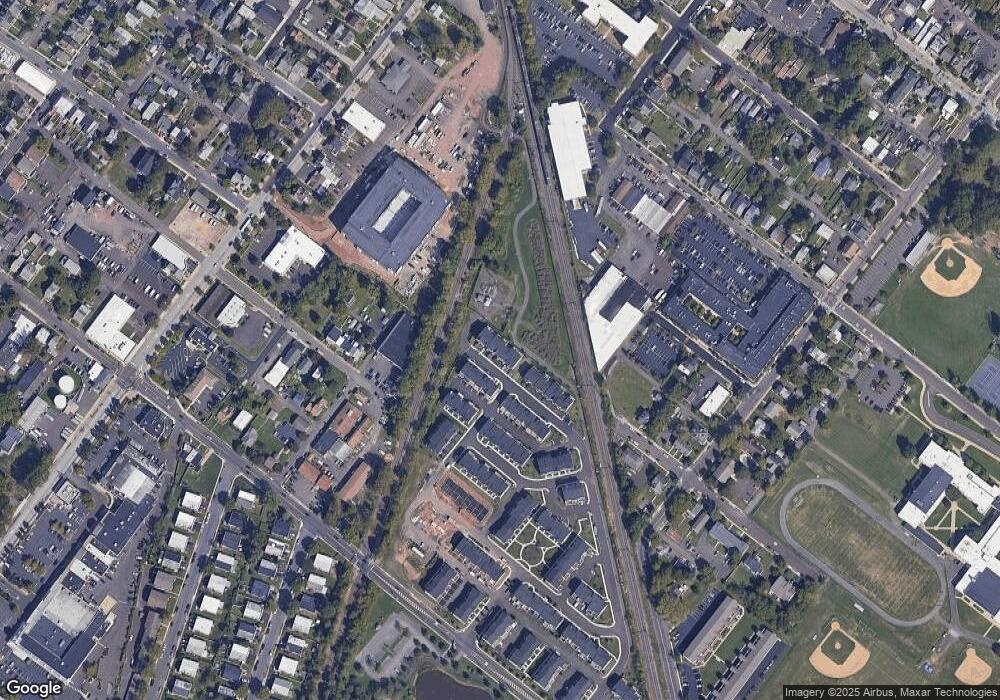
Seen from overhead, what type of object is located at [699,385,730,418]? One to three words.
building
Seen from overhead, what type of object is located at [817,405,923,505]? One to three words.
sports field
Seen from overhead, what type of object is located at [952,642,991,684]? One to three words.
baseball field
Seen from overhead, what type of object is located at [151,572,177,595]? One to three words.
house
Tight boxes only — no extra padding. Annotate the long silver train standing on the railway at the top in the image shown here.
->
[510,6,551,185]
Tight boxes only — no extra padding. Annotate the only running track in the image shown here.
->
[779,478,947,626]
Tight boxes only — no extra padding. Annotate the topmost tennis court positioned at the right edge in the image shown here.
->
[967,355,1000,407]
